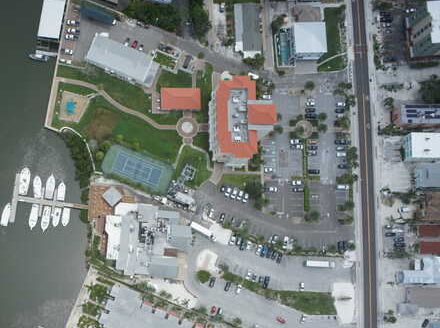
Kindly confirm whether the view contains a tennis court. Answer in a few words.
Yes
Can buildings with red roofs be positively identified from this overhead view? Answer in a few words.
Yes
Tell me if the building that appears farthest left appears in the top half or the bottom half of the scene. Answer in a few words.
top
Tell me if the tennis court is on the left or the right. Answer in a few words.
left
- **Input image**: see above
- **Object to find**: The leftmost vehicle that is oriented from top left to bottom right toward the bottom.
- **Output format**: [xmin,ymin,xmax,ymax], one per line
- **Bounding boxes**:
[188,220,211,236]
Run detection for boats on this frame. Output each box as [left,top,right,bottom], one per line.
[28,203,39,230]
[58,181,65,201]
[41,205,50,232]
[19,168,29,196]
[33,175,42,198]
[47,171,55,199]
[53,206,62,226]
[1,203,12,228]
[32,54,48,61]
[62,206,70,226]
